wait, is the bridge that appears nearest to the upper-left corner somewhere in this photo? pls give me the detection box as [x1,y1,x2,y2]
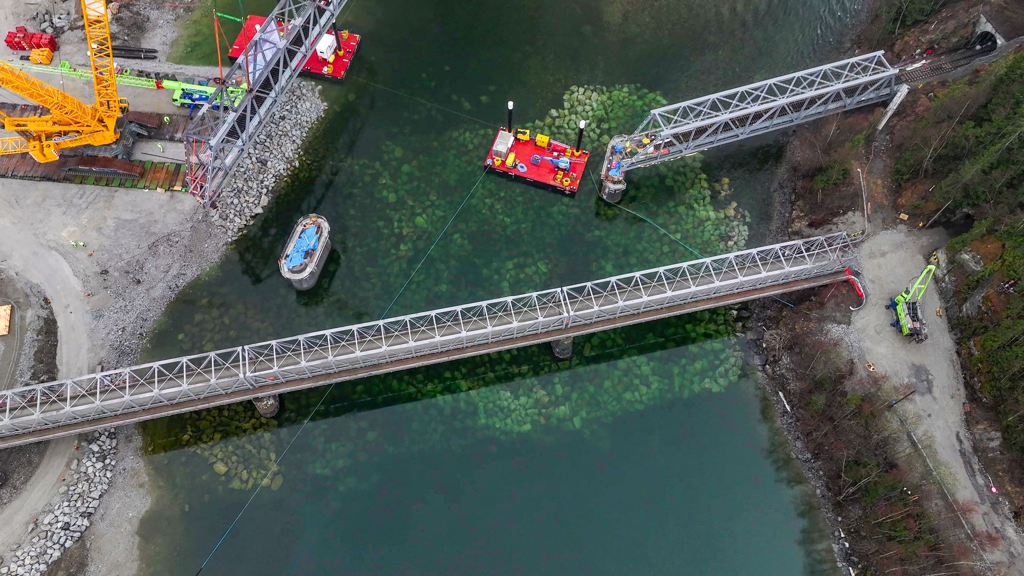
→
[169,0,346,214]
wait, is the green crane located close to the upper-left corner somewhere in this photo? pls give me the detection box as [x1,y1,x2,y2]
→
[0,60,244,121]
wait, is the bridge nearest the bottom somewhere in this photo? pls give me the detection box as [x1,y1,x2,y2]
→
[0,232,857,446]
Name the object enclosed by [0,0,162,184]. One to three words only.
crane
